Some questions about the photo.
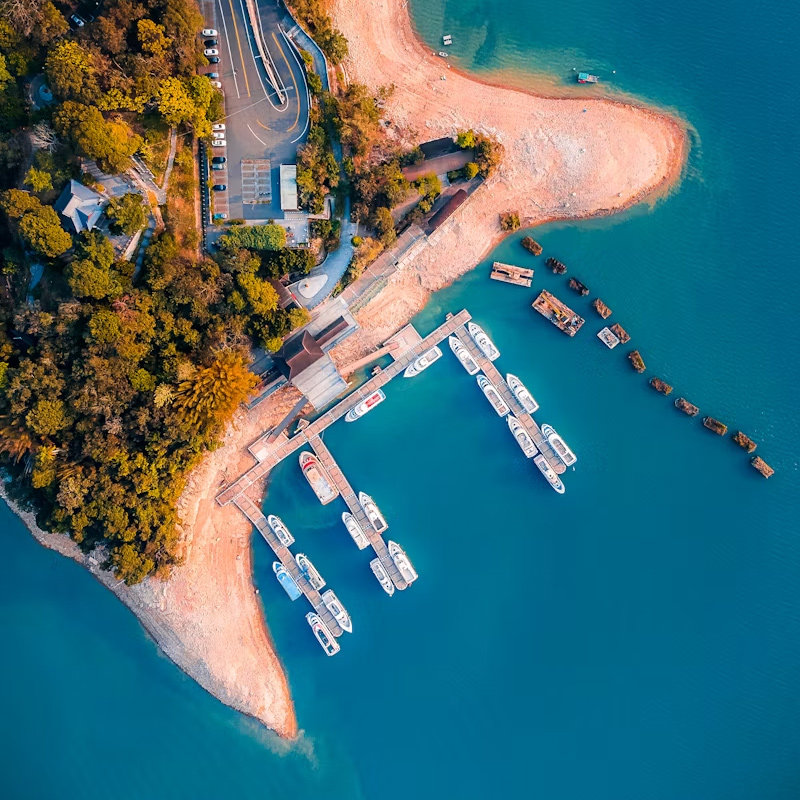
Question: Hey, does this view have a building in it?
Yes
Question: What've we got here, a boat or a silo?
boat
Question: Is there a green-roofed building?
No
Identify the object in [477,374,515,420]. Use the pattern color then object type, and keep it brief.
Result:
white boat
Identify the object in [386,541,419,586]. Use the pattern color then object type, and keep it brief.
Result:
white boat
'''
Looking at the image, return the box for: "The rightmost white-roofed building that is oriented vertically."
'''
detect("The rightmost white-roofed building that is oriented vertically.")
[280,164,298,211]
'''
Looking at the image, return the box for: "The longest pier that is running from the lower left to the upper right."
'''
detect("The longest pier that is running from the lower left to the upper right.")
[216,309,472,506]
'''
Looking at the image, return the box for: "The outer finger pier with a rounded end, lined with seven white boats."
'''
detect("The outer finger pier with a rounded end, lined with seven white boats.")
[455,321,564,473]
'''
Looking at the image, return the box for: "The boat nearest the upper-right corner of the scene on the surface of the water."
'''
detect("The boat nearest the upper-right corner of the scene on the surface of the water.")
[577,70,599,84]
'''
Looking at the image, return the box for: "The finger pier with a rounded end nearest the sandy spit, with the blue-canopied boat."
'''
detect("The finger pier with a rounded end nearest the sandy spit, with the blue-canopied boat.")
[235,496,345,634]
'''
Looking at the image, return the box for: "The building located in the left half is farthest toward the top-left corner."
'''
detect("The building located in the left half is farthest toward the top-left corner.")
[55,178,106,233]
